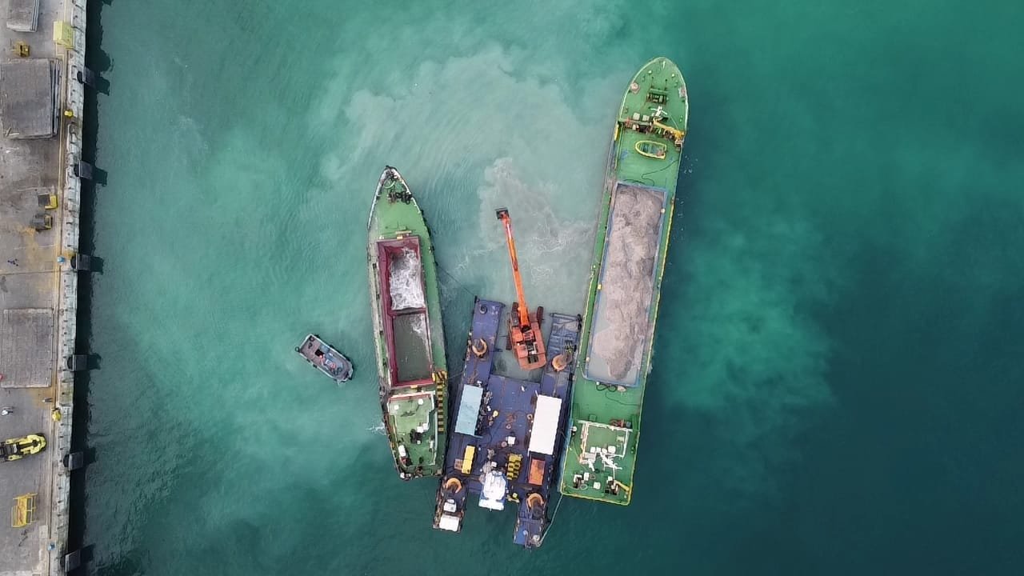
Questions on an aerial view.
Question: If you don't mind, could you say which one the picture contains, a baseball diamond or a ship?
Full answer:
Of the two, only a ship appears.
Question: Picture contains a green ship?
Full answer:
Yes, there is a green ship in the image.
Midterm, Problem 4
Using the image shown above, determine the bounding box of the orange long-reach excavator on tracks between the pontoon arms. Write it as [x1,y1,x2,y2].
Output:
[494,205,547,370]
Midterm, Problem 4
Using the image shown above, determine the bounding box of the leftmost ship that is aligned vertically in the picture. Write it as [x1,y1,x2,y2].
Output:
[367,163,451,480]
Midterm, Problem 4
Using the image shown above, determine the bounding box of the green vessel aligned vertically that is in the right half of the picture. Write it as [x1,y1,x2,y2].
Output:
[559,57,689,506]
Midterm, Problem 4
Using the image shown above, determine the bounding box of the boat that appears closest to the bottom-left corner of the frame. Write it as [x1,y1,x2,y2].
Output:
[295,332,356,385]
